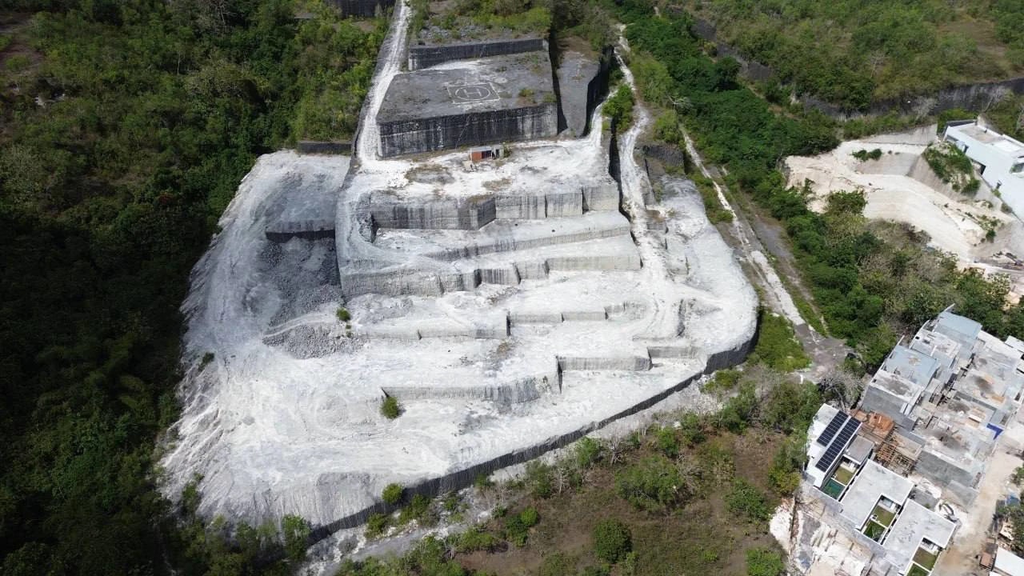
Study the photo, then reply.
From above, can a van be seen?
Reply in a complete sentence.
No, the photo shows no van.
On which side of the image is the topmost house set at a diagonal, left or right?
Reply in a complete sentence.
The topmost house set at a diagonal sits on the right side.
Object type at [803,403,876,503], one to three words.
house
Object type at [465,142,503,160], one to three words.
shed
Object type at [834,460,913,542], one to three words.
house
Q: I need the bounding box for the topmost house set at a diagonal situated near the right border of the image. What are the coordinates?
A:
[938,120,1024,226]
